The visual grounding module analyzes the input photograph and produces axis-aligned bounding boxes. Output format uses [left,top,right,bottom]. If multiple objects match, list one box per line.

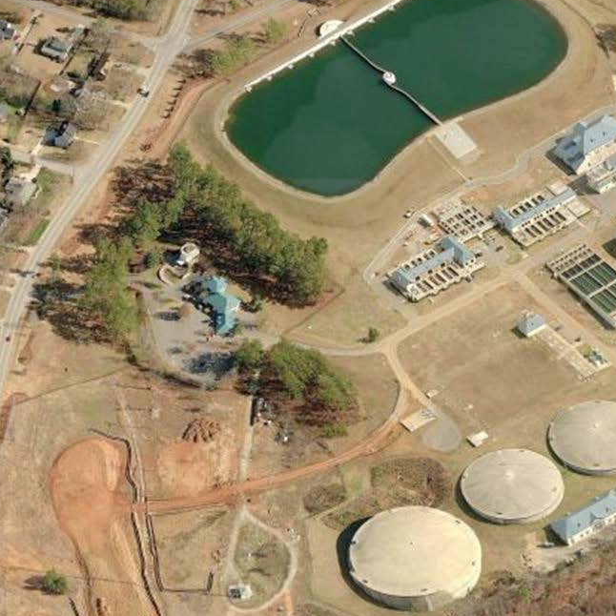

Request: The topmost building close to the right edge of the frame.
[541,117,616,179]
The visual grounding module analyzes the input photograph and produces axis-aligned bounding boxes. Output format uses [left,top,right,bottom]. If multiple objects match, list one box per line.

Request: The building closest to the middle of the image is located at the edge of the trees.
[197,286,247,340]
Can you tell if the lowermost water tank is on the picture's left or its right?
right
